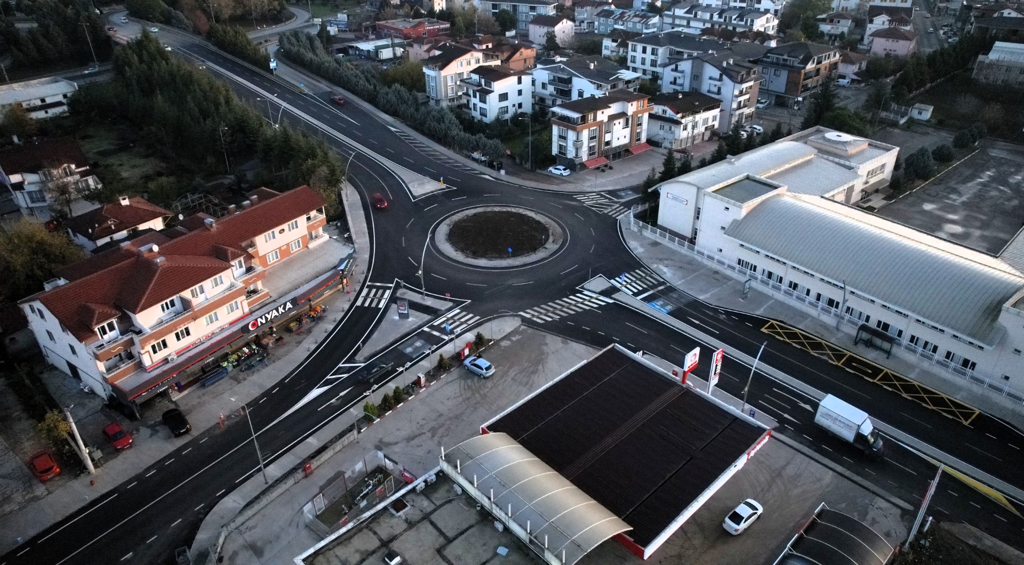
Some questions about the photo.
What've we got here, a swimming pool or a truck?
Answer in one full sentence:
Of the two, only a truck appears.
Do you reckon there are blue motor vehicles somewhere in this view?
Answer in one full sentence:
Yes, there's a blue motor vehicle here.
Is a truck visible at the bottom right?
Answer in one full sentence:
Yes, a truck can be seen at the bottom right.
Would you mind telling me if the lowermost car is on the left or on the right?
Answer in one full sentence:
It is on the right.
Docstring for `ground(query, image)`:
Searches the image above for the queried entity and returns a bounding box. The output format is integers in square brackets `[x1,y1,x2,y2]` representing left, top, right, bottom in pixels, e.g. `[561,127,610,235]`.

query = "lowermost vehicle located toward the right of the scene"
[721,496,766,534]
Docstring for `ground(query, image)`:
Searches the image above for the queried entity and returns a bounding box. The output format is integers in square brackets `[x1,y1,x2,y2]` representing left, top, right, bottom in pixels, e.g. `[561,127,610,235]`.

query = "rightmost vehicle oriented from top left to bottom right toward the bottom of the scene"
[819,400,890,461]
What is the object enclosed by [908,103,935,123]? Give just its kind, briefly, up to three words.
shed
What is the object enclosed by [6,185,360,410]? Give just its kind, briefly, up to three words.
building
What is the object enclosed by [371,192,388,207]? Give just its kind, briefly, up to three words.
car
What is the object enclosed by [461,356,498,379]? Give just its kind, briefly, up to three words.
car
